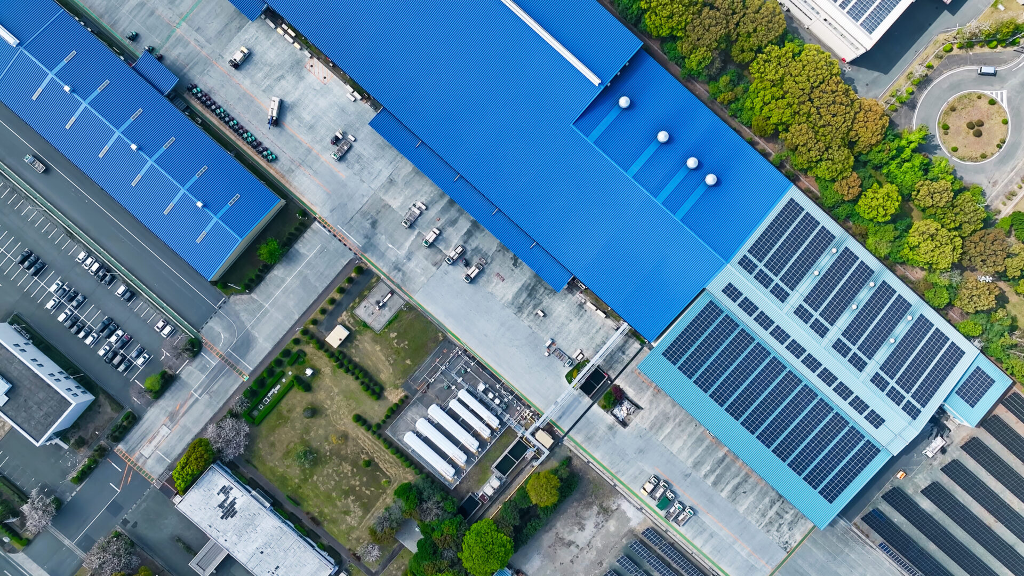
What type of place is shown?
industrial area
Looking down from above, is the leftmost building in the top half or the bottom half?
bottom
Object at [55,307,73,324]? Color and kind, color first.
white vehicle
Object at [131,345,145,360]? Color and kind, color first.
blue car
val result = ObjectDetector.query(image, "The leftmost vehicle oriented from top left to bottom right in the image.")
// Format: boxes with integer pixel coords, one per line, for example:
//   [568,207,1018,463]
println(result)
[19,151,49,175]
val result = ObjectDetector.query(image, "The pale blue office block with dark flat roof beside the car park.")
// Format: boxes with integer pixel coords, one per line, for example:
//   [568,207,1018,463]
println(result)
[0,317,94,454]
